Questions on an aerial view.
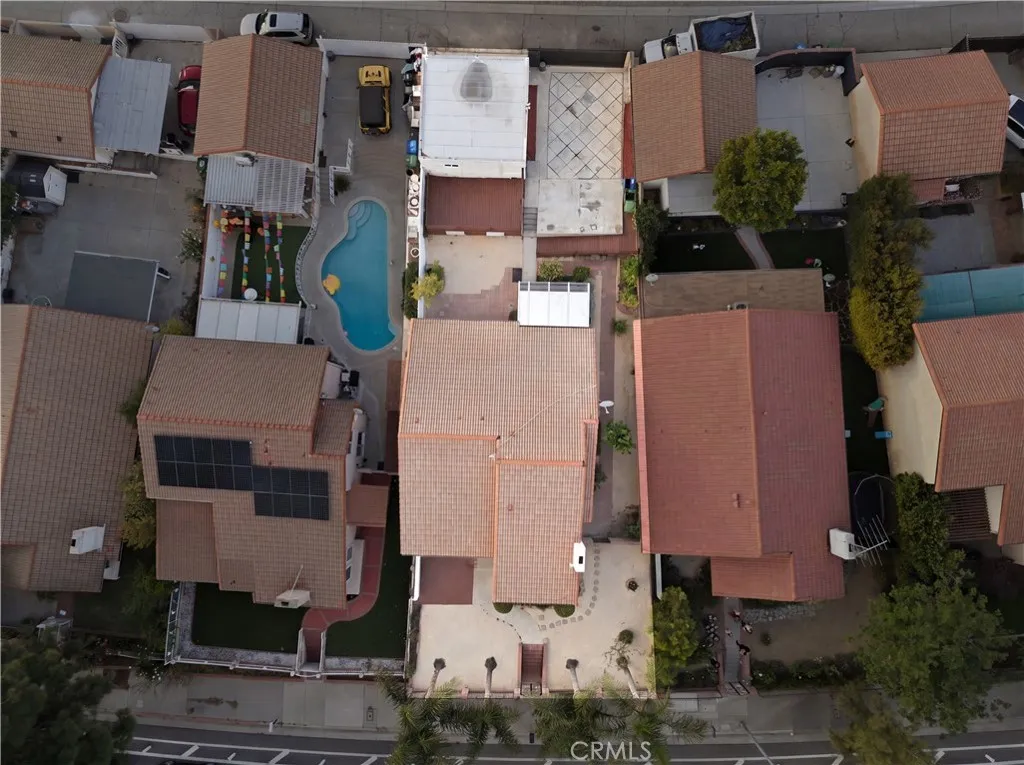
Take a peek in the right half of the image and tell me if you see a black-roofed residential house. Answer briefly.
No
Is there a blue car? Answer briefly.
No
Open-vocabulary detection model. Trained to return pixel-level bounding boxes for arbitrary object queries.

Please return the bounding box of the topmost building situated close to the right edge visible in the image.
[845,49,1011,204]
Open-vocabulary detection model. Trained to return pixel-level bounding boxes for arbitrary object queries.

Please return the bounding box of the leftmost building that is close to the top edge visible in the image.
[0,32,115,164]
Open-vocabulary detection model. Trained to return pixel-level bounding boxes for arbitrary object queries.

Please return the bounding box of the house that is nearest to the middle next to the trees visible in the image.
[398,318,599,606]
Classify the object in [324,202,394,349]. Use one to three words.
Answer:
swimming pool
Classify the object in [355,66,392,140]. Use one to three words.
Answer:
car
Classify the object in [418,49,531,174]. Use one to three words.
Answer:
building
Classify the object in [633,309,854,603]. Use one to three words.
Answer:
house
